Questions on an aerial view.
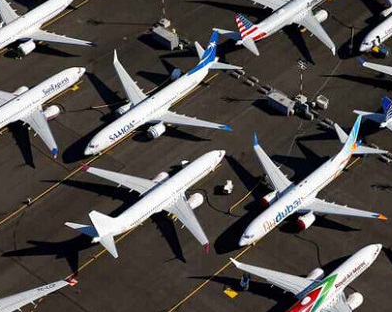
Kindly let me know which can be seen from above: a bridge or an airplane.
airplane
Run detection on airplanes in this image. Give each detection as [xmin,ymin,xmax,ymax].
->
[0,273,79,312]
[84,30,242,155]
[212,0,335,55]
[229,244,384,312]
[66,150,227,257]
[0,0,96,57]
[359,0,392,53]
[0,68,86,160]
[238,113,389,246]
